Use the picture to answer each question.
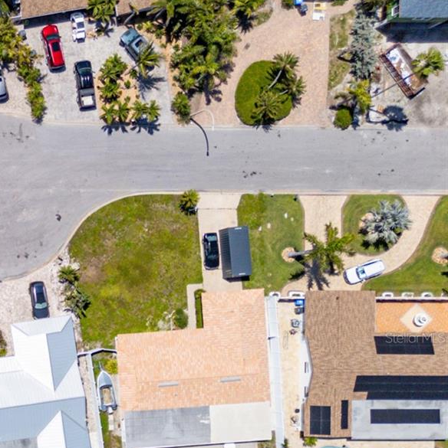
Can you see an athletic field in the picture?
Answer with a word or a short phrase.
No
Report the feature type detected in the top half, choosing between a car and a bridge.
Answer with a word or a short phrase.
car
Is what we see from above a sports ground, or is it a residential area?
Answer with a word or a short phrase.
residential area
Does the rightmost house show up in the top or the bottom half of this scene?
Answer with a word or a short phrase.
top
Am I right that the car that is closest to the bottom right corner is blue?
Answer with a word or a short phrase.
No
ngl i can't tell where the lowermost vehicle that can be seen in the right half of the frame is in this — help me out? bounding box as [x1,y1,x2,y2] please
[337,259,383,285]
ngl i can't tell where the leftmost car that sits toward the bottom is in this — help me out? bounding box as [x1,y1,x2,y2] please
[29,280,52,320]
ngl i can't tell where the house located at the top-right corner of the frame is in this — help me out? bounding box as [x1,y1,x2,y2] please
[374,0,448,32]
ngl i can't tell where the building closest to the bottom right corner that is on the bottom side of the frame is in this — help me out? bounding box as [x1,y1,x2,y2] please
[295,290,448,441]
